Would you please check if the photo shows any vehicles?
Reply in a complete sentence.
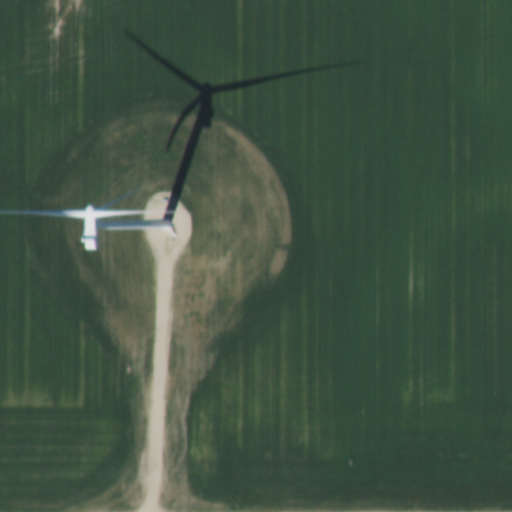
No, the photo shows no vehicle.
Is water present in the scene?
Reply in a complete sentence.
No, water can't be seen anywhere here.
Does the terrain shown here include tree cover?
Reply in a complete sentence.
No, there's no tree cover in this view.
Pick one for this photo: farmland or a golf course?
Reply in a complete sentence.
What you see here is farmland.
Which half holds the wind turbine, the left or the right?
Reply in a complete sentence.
The wind turbine appears in the left half of the scene.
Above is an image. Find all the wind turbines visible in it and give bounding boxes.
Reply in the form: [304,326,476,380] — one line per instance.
[0,190,217,250]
